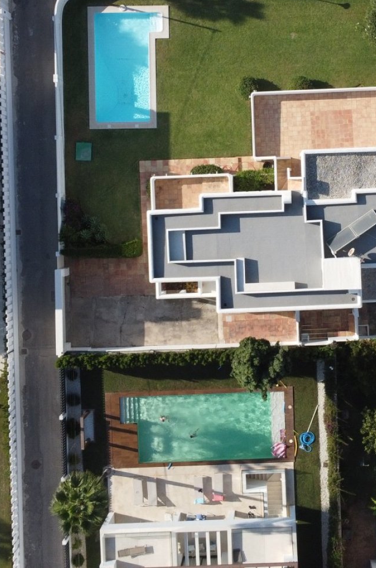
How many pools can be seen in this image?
2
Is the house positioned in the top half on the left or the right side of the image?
right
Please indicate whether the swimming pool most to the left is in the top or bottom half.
top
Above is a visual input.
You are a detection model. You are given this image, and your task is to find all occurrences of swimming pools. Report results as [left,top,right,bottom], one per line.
[118,390,288,465]
[88,5,170,128]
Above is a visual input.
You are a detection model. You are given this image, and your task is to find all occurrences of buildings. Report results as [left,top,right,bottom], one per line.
[148,88,376,314]
[100,467,299,568]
